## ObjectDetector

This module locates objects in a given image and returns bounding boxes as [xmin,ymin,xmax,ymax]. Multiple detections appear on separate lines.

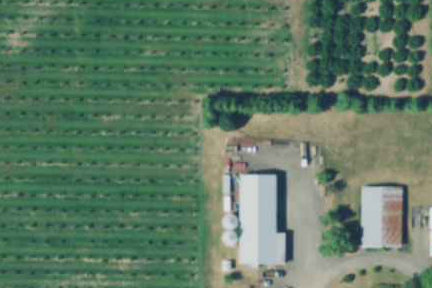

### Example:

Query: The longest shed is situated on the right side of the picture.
[240,176,286,269]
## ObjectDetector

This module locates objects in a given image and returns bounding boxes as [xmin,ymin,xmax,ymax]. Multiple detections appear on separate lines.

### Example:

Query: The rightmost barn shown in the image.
[362,187,404,248]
